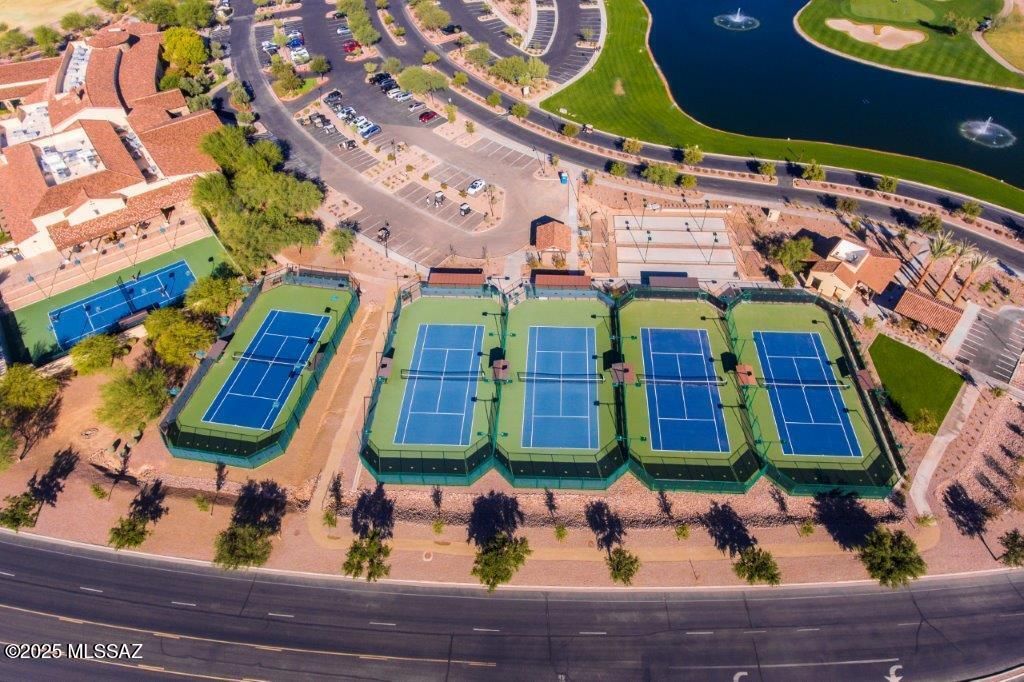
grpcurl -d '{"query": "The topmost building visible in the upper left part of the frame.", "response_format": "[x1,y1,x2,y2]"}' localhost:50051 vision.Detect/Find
[0,23,228,261]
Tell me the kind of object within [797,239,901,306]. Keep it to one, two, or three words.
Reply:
building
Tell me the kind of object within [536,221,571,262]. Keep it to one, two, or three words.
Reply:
building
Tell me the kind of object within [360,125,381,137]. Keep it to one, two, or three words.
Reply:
vehicle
